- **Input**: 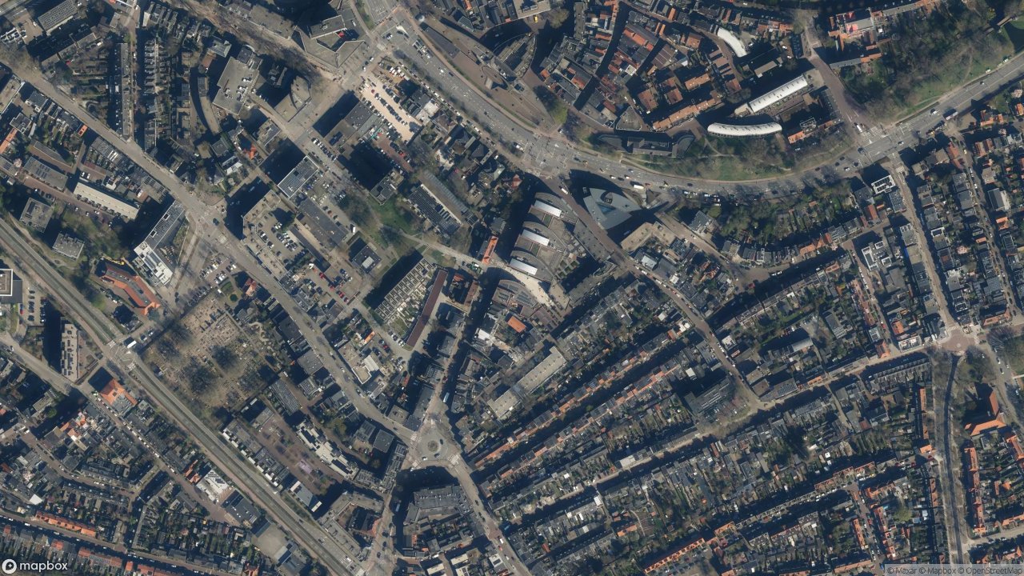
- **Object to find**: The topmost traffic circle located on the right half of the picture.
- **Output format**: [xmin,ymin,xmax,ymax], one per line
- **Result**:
[939,322,978,361]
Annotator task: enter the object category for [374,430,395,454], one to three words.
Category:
building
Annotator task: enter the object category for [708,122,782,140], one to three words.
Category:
building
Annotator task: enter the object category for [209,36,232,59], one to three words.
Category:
house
